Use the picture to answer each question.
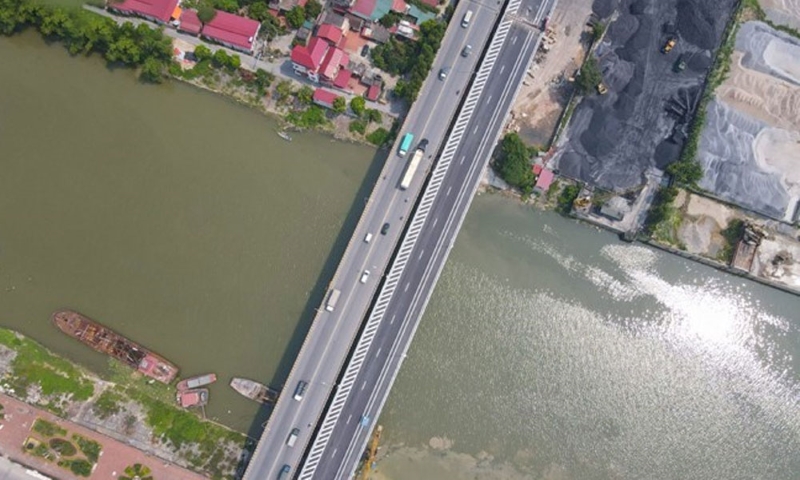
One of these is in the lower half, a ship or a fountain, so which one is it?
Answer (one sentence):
It is a ship that can be seen in the lower half.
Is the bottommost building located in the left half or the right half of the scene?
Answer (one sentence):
The bottommost building appears in the right half of the scene.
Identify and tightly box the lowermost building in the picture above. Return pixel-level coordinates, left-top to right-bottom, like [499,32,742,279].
[600,195,630,220]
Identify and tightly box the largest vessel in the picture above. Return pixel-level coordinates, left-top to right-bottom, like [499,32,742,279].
[55,313,178,386]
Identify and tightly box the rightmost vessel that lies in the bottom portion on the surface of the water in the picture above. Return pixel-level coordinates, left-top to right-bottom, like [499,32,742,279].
[230,379,279,406]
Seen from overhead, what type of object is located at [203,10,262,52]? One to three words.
building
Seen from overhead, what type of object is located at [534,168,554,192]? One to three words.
shed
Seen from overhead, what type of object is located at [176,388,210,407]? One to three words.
boat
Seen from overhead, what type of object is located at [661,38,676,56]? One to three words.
work vehicle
